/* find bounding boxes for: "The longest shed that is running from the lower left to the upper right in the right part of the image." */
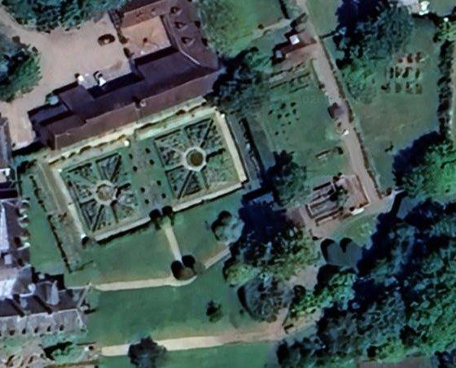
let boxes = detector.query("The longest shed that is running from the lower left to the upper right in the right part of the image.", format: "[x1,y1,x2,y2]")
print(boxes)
[273,29,315,60]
